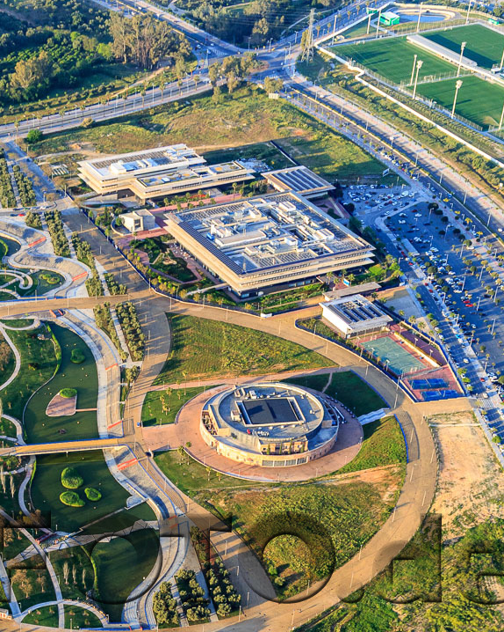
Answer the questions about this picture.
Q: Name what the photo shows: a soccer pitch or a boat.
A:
soccer pitch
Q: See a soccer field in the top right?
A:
Yes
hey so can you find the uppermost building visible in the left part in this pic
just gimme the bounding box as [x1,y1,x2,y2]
[85,144,254,201]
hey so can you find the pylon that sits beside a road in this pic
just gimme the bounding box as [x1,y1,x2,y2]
[302,0,318,61]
